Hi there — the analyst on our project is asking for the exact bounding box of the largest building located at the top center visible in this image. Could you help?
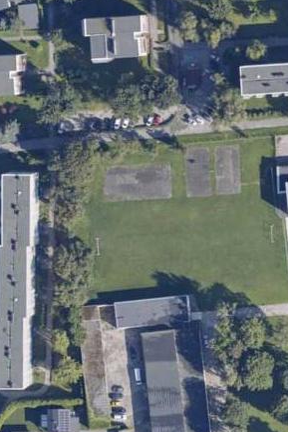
[83,15,153,67]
